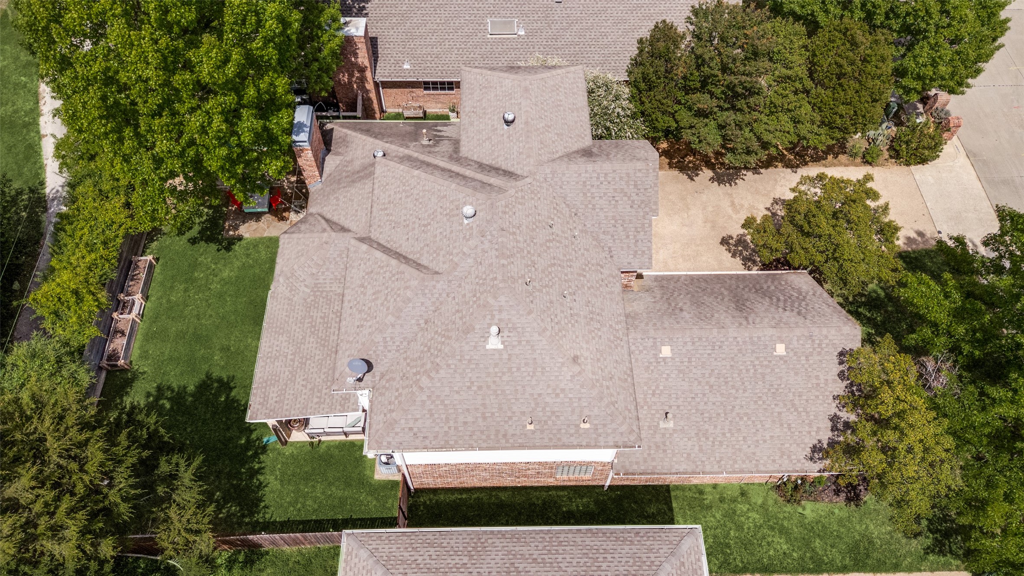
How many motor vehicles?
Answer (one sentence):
I count no motor vehicles.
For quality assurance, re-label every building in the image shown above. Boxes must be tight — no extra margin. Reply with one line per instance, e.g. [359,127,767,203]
[332,520,713,576]
[242,66,859,501]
